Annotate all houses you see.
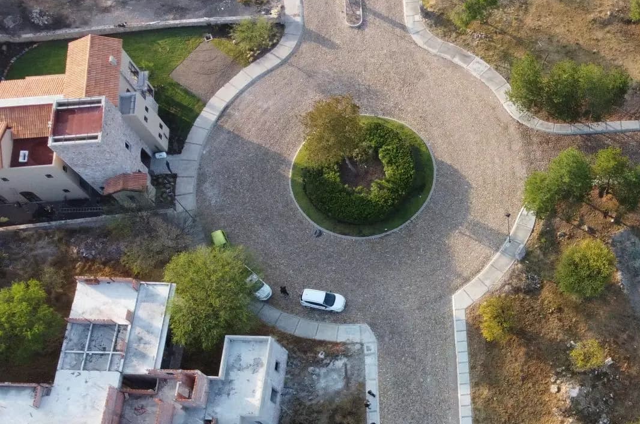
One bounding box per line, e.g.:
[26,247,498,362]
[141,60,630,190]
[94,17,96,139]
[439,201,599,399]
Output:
[0,278,286,424]
[0,33,169,207]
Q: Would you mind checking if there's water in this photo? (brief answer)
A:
No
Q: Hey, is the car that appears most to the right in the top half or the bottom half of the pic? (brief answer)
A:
bottom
